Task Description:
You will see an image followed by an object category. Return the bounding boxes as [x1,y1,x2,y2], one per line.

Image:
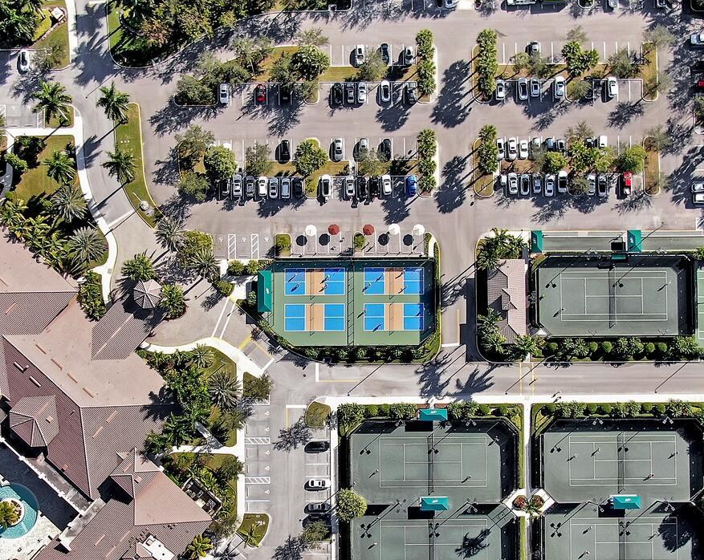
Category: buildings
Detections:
[0,220,212,560]
[487,259,526,335]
